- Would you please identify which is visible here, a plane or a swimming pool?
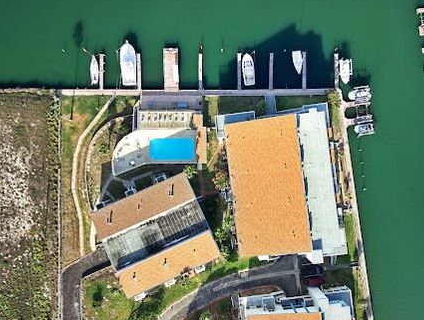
swimming pool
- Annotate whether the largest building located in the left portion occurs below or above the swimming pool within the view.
below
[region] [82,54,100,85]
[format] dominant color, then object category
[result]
white boat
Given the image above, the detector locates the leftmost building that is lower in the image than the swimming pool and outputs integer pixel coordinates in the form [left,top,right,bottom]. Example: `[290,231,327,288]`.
[90,171,221,298]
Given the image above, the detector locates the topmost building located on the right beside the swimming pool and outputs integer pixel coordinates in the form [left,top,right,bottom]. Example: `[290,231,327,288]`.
[215,101,349,267]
